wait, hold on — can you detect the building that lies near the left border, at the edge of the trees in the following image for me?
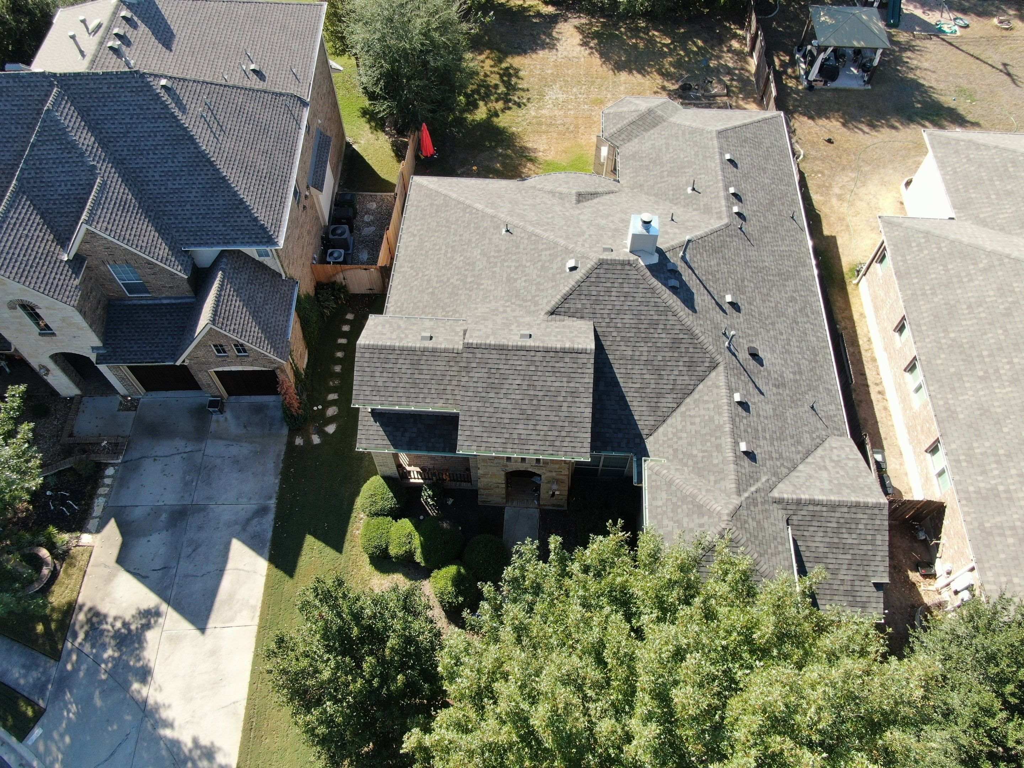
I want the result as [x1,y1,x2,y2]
[0,0,340,399]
